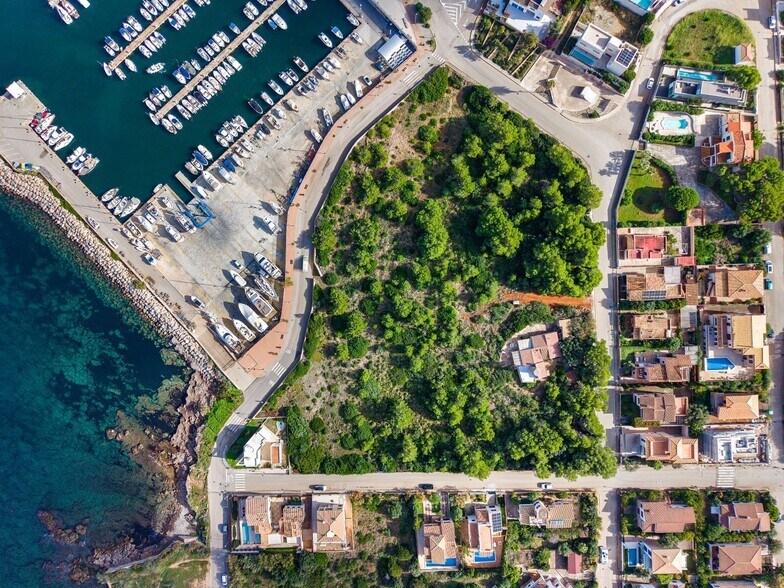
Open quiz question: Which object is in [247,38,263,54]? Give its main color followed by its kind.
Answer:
white boat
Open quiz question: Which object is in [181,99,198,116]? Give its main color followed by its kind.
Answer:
white boat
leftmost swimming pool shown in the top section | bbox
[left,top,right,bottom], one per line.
[569,50,597,68]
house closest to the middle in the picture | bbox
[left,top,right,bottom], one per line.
[510,332,562,384]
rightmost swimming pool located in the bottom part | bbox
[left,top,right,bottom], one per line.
[706,358,735,371]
